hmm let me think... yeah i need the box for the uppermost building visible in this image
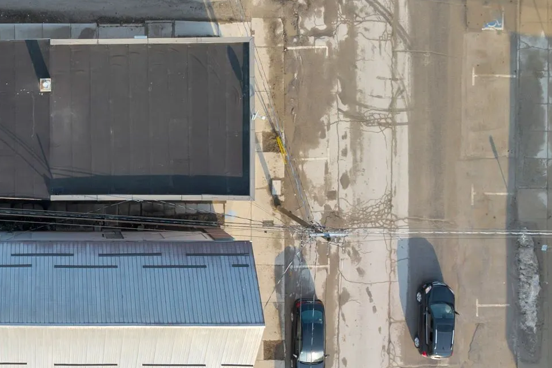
[0,38,254,200]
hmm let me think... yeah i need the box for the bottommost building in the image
[0,229,263,368]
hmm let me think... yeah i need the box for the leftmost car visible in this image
[289,296,334,368]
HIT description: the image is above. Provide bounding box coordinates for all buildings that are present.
[0,38,254,200]
[0,229,263,368]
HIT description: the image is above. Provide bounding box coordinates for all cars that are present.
[411,278,462,360]
[289,296,334,368]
